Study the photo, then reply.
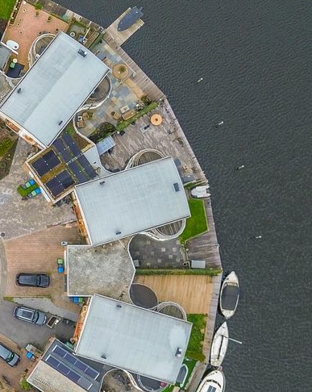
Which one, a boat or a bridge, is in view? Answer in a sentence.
There is a boat in the scene.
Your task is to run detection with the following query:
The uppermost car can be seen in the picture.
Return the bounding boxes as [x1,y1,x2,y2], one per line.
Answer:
[16,273,49,288]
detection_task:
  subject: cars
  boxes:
[0,342,19,366]
[14,306,48,325]
[16,273,49,288]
